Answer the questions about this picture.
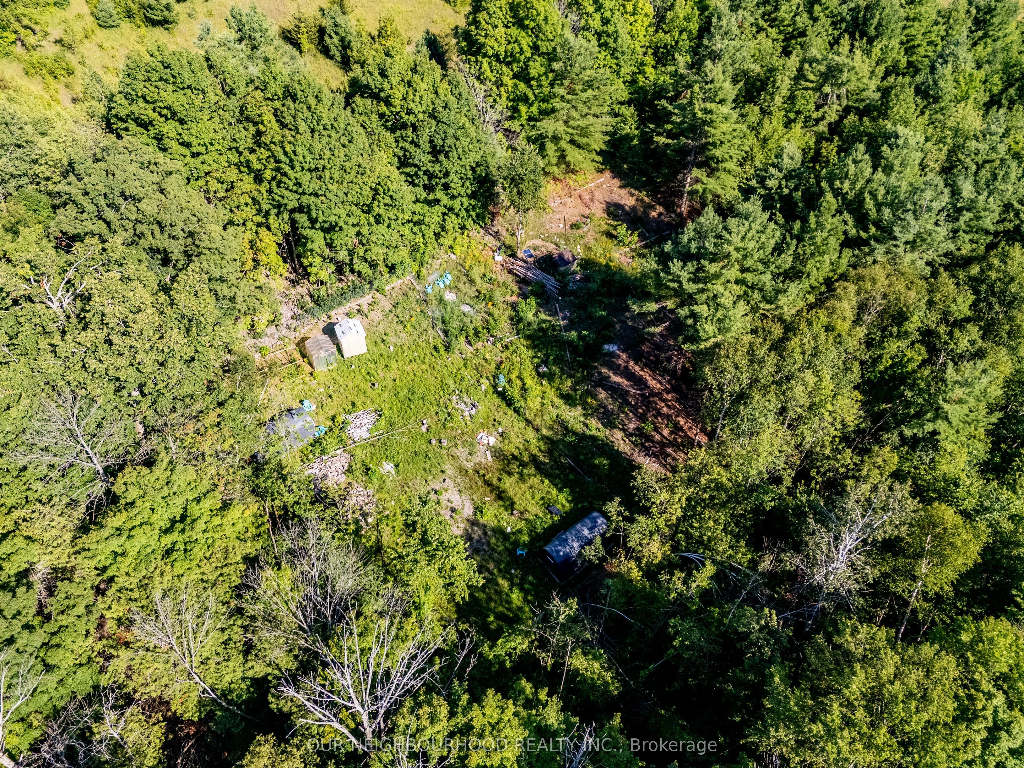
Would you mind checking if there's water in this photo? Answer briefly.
No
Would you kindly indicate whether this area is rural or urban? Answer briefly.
rural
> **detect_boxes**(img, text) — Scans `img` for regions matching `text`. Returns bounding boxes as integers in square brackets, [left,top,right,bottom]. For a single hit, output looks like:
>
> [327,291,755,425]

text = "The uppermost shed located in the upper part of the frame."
[550,249,579,276]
